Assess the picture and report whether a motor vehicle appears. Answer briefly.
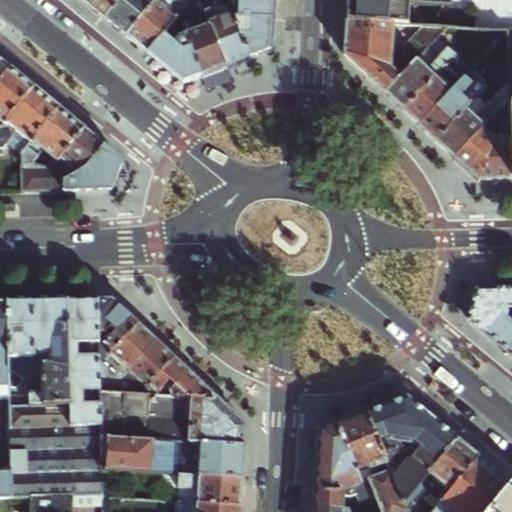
Yes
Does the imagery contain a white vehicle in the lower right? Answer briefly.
Yes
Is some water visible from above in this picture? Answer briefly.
No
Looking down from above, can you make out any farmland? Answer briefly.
No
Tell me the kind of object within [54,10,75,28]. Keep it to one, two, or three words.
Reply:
car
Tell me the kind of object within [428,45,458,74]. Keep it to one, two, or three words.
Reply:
shed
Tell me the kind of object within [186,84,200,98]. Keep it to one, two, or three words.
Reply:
umbrella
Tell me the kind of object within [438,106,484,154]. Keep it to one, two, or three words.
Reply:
house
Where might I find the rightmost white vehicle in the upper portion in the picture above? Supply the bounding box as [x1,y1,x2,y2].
[204,146,229,166]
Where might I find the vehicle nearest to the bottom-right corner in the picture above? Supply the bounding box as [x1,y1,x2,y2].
[487,429,507,447]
